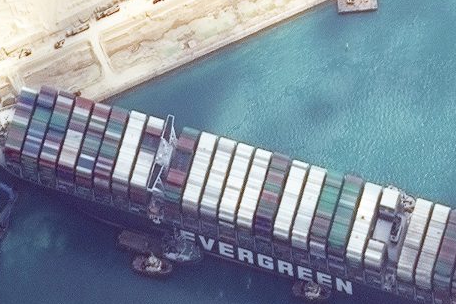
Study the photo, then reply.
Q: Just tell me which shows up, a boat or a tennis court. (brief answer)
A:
boat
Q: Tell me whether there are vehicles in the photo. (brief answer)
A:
Yes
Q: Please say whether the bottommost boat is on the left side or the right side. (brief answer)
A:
right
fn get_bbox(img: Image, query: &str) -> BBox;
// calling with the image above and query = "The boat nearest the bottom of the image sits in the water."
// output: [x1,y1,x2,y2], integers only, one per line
[291,282,332,304]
